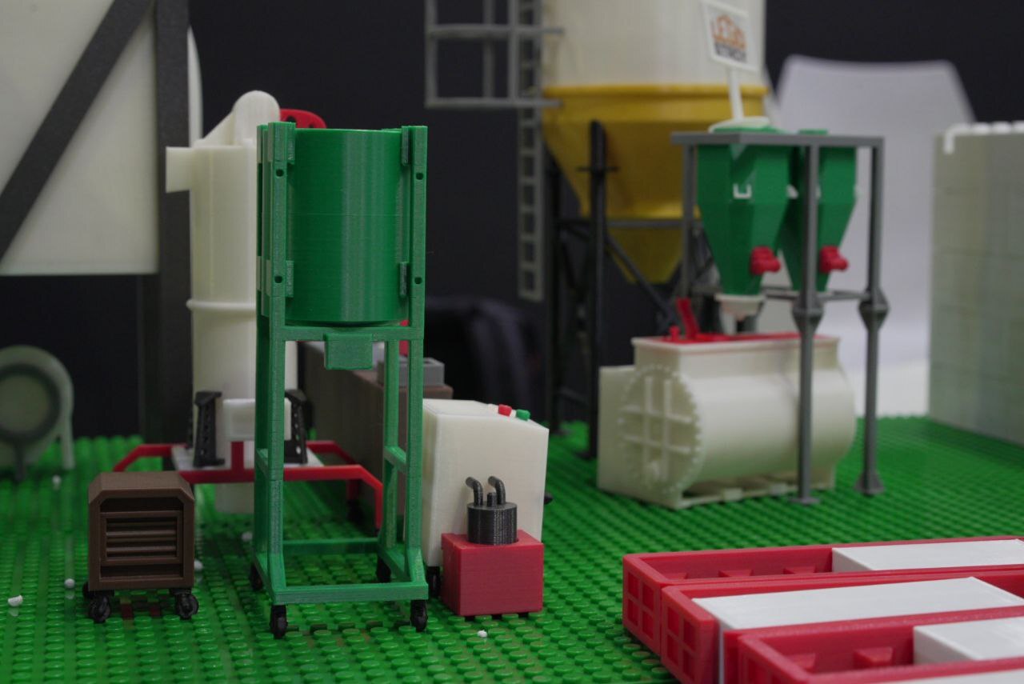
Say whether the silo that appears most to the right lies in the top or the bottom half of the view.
top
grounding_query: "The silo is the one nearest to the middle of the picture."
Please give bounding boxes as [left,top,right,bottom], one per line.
[424,0,767,460]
